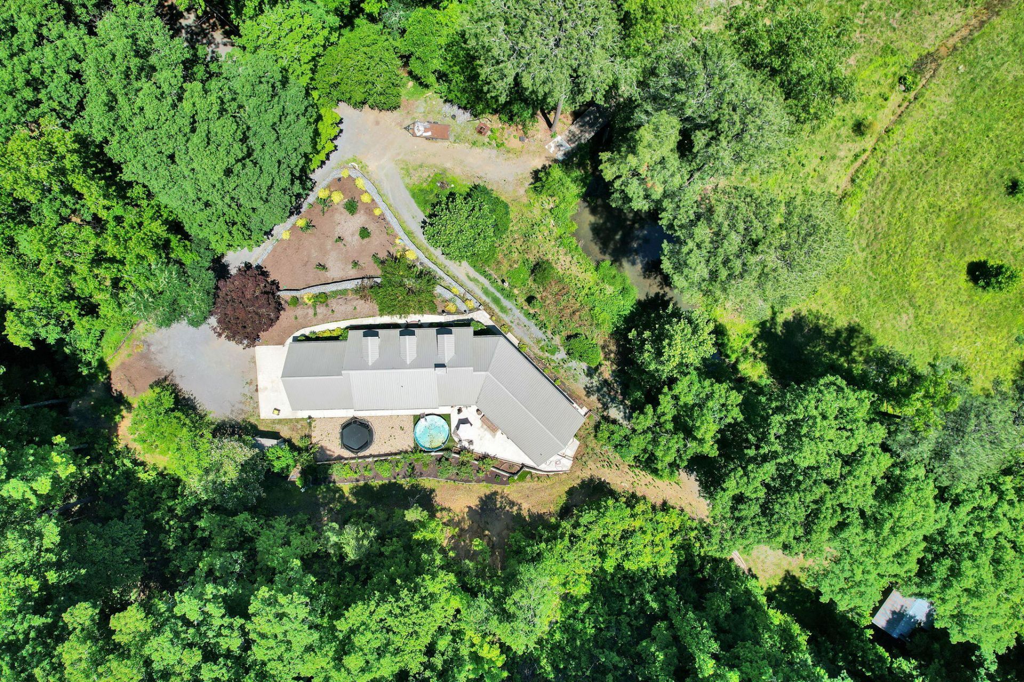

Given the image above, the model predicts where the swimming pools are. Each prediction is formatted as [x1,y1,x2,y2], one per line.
[414,414,451,451]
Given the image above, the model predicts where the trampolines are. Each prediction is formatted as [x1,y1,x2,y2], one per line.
[338,418,374,456]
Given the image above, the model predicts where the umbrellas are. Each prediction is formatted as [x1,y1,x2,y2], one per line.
[456,422,479,443]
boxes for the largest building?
[281,327,586,467]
